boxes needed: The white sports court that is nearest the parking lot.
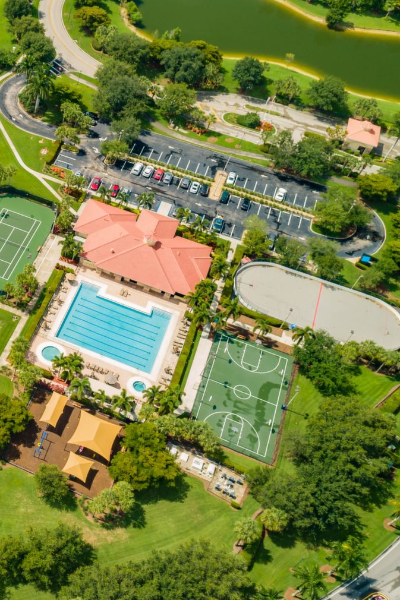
[235,261,400,354]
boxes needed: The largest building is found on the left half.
[74,199,213,303]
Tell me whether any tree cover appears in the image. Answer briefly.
Yes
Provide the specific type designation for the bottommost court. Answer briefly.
basketball court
